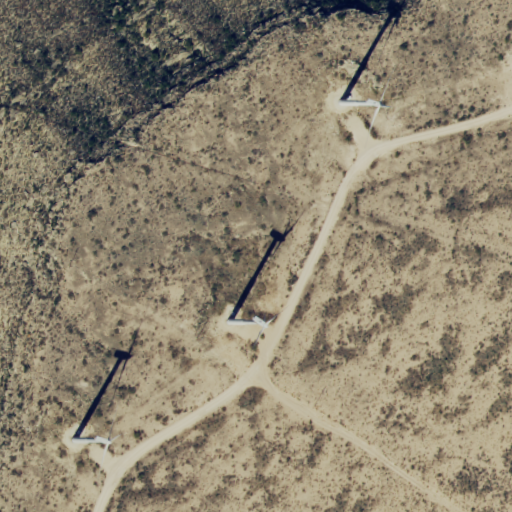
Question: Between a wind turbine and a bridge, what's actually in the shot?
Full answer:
I can see a wind turbine in this picture.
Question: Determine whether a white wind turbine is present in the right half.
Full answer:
Yes, a white wind turbine can be seen in the right half.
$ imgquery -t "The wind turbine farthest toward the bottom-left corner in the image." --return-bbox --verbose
[69,422,120,473]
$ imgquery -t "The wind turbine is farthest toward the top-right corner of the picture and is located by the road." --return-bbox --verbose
[336,78,388,132]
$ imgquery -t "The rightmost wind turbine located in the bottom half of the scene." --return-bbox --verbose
[224,308,281,352]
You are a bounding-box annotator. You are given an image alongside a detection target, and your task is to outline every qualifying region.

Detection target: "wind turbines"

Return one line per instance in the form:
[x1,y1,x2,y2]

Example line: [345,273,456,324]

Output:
[336,78,388,132]
[69,422,120,473]
[224,308,281,352]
